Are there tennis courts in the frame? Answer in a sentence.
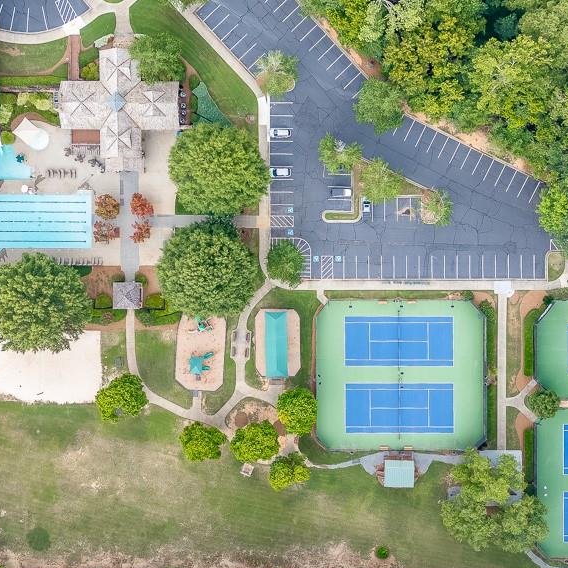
Yes, I can see a tennis court in this picture.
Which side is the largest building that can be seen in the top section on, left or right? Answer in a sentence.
The largest building that can be seen in the top section appears in the left half of the scene.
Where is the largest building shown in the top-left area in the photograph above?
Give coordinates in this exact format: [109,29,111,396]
[55,44,179,173]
